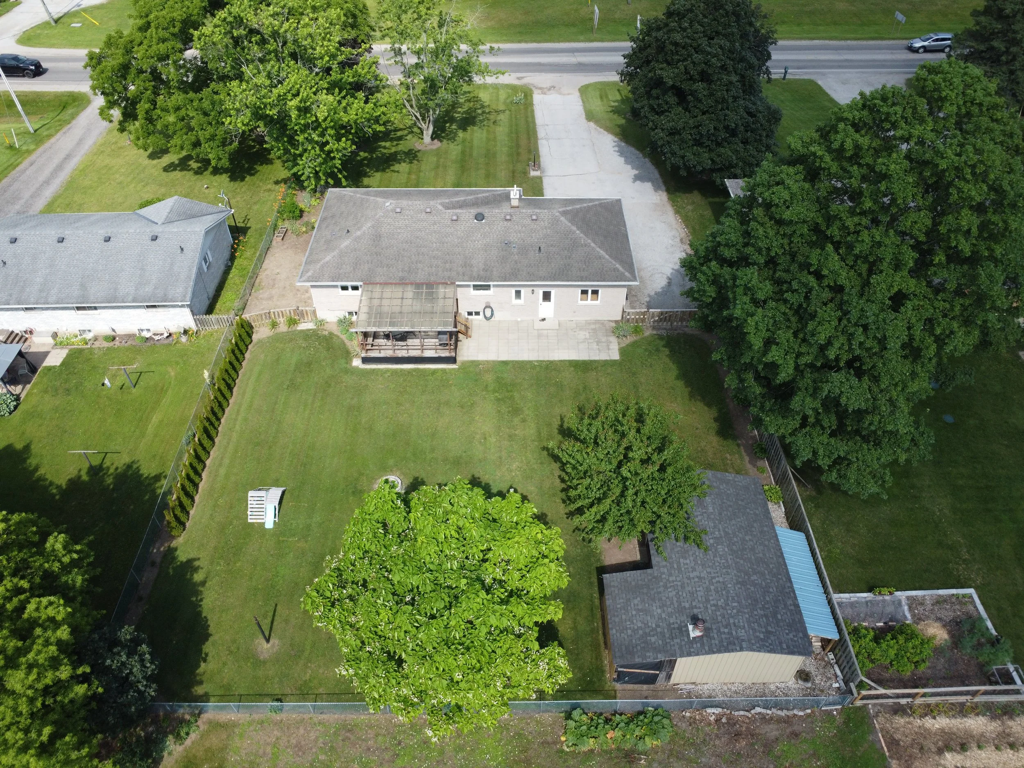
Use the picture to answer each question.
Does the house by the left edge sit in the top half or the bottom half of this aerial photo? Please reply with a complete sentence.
The top half of the photo is where the house by the left edge is.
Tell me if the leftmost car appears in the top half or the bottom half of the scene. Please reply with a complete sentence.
You can find the leftmost car in the top half.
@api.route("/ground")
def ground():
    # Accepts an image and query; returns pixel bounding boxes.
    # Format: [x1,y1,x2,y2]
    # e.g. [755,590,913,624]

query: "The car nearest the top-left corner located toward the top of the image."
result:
[0,51,39,78]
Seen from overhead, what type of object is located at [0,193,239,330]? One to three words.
house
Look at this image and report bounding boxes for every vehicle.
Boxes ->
[0,51,39,78]
[906,27,961,51]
